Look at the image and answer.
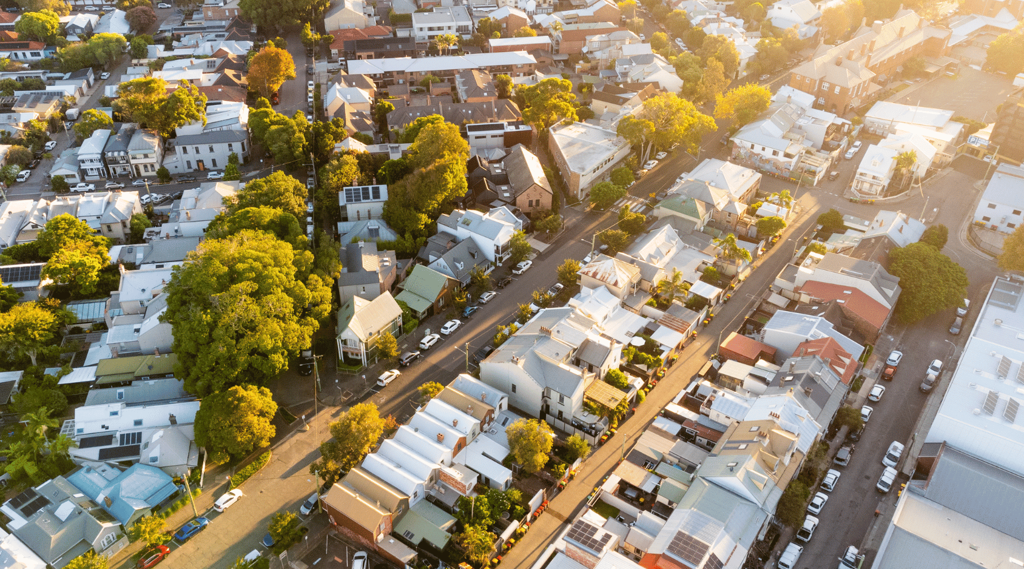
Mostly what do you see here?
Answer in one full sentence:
For the most part, this view shows buildings.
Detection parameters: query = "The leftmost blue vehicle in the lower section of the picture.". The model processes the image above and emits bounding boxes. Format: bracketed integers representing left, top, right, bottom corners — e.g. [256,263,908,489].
[174,519,207,544]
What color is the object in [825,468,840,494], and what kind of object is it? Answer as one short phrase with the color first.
white car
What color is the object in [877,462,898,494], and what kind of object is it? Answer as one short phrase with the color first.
white vehicle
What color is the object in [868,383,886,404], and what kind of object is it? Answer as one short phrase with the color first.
white car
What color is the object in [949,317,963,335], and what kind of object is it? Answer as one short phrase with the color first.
gray car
